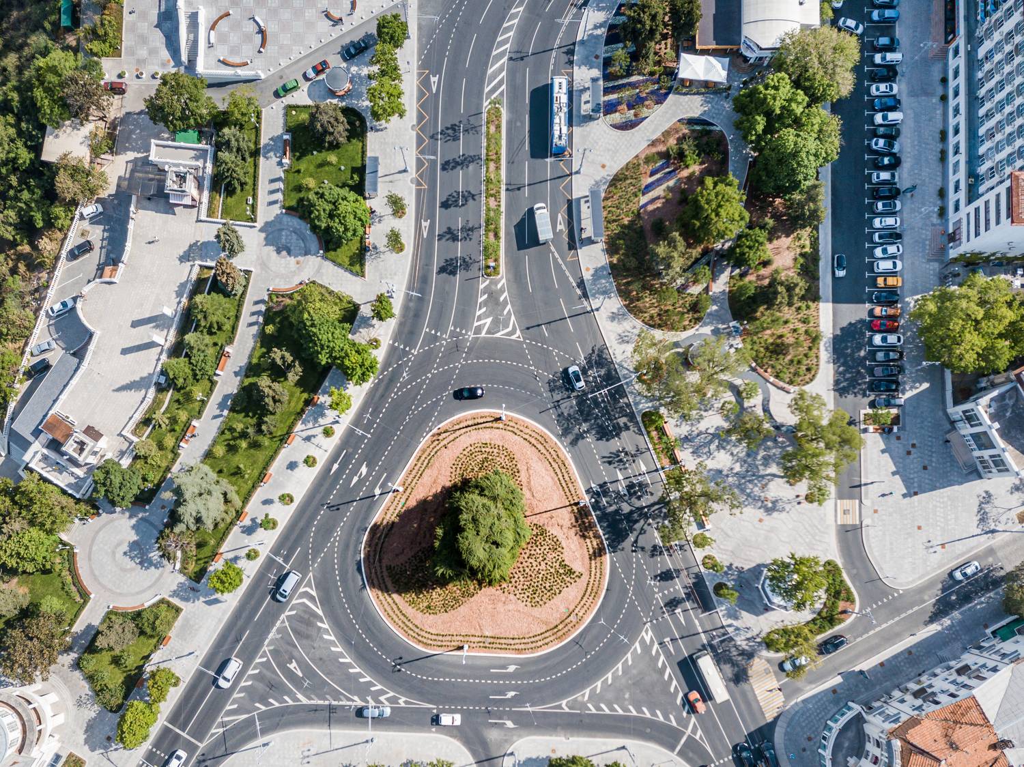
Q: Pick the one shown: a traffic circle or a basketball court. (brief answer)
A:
traffic circle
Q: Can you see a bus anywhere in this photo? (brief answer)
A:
Yes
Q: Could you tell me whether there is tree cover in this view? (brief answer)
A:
Yes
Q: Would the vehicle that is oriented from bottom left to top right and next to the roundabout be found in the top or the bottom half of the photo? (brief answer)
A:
bottom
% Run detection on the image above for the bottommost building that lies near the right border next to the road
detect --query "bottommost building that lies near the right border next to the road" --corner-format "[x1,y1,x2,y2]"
[816,610,1024,767]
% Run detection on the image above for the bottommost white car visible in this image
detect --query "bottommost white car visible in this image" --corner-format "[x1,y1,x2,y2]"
[165,743,187,767]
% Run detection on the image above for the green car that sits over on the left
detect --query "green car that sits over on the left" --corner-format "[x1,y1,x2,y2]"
[276,78,302,97]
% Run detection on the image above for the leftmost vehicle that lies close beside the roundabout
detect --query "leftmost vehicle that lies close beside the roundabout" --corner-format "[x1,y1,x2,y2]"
[274,569,301,602]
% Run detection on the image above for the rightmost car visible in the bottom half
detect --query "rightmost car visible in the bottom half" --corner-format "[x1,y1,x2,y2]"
[952,561,982,581]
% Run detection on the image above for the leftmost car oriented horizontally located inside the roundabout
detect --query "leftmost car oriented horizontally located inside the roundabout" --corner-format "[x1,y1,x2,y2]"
[455,387,484,400]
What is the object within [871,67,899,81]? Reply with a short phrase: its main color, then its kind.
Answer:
black car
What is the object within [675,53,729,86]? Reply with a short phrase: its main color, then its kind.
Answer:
white tent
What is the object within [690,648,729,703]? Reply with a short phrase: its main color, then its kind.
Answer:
white bus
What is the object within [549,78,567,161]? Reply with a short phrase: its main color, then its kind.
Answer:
white vehicle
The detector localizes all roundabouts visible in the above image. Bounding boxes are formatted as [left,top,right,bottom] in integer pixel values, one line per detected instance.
[315,343,648,707]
